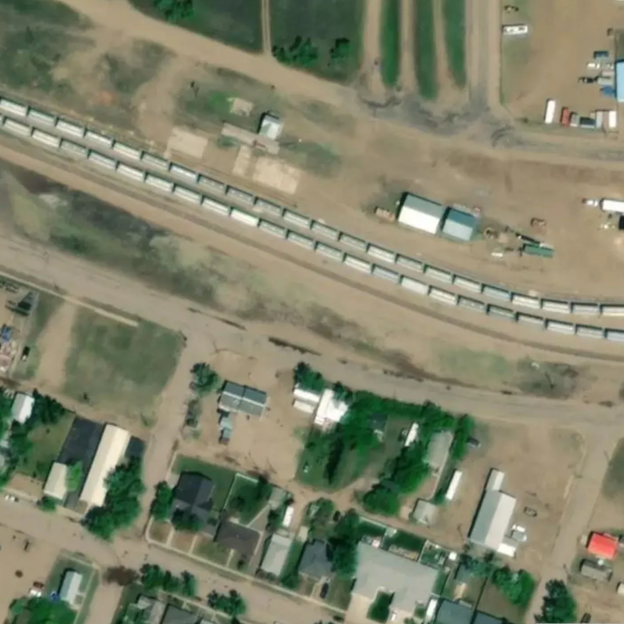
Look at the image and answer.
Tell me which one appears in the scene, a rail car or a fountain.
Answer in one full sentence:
It is a rail car that can be seen here.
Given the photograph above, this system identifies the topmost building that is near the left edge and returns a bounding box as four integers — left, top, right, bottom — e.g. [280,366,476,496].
[11,393,33,422]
